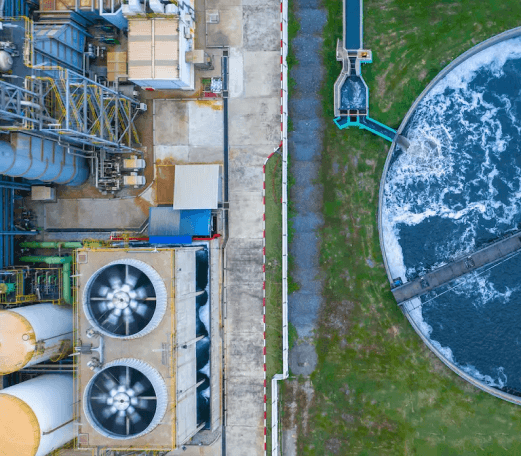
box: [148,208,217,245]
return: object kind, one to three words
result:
shed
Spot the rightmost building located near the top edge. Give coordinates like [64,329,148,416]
[127,0,205,89]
